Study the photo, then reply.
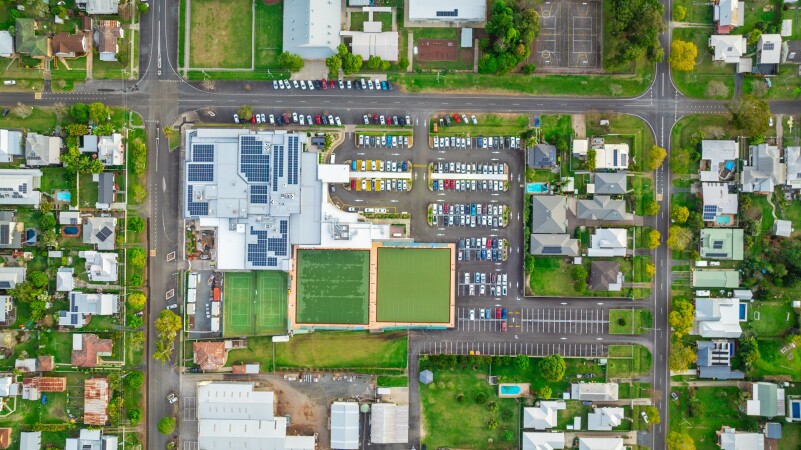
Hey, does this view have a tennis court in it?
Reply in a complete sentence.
Yes, this view includes a tennis court.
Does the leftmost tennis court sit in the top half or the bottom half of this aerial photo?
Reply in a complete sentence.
The leftmost tennis court sits in the bottom half of the picture.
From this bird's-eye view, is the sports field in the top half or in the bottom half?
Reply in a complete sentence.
The sports field is in the top half of the image.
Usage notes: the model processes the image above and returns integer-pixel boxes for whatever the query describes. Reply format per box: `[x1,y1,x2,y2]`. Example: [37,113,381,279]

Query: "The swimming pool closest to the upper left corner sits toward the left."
[52,189,71,209]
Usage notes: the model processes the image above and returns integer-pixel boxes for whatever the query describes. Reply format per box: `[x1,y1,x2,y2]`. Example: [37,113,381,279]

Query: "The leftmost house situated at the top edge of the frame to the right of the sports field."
[283,0,342,61]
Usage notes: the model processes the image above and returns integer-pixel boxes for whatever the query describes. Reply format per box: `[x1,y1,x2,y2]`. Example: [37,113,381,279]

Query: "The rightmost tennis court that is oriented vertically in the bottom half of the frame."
[256,272,288,337]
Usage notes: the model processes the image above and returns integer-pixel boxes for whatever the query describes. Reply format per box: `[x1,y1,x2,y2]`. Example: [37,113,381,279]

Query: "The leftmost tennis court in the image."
[224,272,256,337]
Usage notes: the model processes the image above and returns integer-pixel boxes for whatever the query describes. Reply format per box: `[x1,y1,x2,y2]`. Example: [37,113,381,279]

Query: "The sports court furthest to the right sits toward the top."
[564,0,602,67]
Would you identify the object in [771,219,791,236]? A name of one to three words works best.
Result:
shed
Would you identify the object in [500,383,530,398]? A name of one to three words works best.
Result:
swimming pool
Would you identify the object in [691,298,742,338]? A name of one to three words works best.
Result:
house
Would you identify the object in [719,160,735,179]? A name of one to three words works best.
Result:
swimming pool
